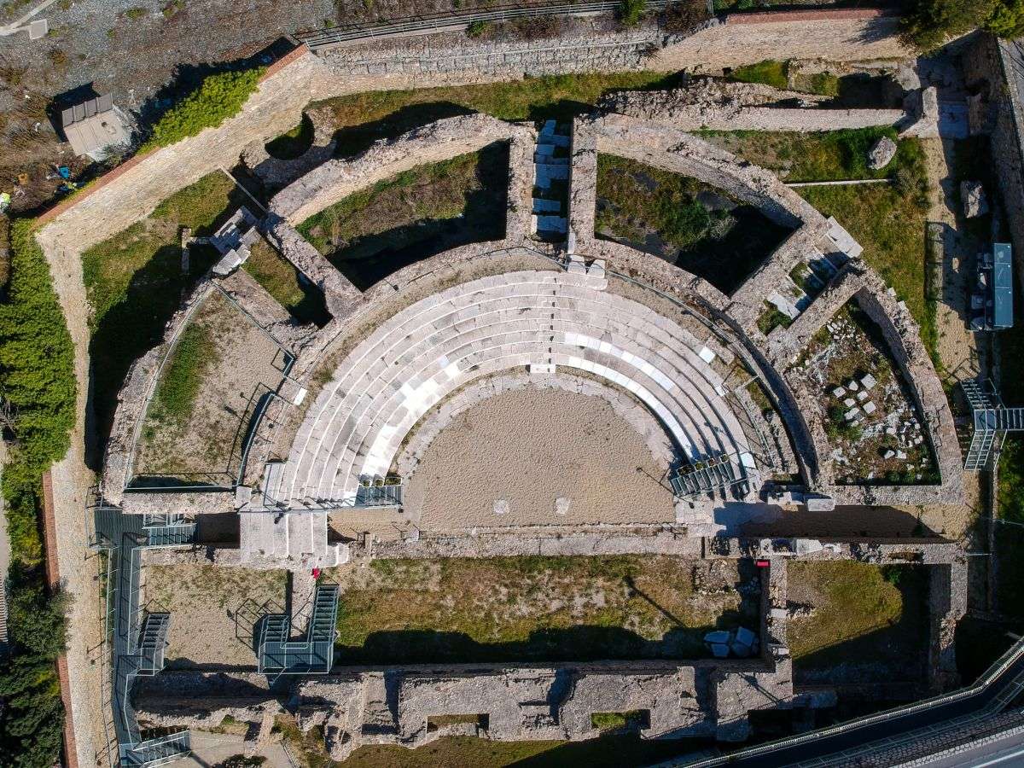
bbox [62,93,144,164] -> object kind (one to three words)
shed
